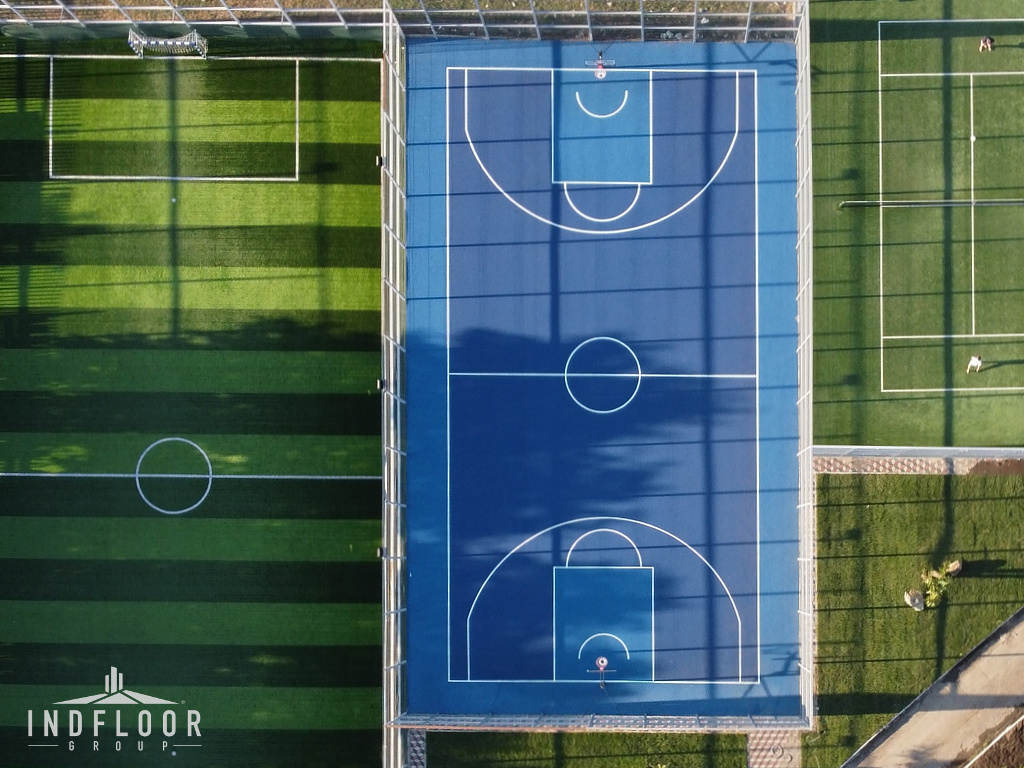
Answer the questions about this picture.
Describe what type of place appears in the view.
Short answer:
sports ground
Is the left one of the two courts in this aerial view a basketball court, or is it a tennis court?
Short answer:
basketball court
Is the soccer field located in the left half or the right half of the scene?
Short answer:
left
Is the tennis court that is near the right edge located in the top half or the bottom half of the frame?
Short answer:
top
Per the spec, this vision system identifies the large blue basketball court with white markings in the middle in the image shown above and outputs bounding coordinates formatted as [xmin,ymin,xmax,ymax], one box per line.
[405,38,801,717]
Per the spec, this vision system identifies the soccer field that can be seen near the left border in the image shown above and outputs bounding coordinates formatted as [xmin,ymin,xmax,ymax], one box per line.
[0,38,385,768]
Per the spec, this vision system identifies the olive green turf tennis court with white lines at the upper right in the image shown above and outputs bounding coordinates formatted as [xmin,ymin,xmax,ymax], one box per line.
[798,0,1024,458]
